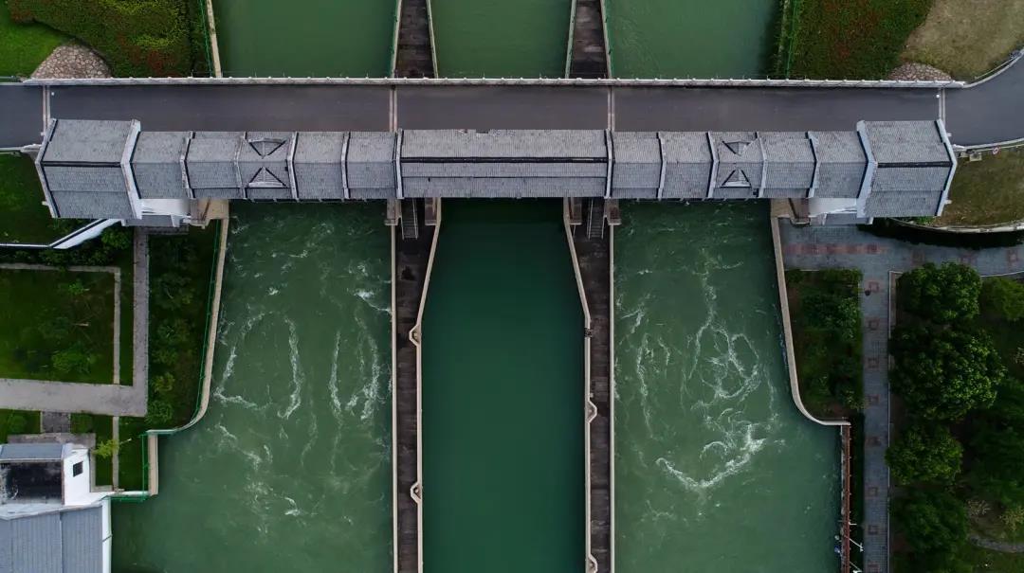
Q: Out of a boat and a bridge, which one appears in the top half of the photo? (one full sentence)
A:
The one visible in the top half of the photo is a bridge.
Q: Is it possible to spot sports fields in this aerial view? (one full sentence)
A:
No, no sports field can be seen from above.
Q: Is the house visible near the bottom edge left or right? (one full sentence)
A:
The house visible near the bottom edge appears in the left half of the scene.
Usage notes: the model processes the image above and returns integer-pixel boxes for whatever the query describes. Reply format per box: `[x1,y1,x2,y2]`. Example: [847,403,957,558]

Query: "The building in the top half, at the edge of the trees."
[30,118,961,231]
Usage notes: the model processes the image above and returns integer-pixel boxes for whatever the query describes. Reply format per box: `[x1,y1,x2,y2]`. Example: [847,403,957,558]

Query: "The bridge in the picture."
[24,75,964,131]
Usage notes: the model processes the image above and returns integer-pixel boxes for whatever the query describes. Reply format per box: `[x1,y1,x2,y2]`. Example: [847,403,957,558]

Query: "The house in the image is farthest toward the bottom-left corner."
[0,443,118,573]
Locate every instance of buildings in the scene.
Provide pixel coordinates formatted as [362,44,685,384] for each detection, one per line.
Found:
[30,118,961,231]
[0,443,118,573]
